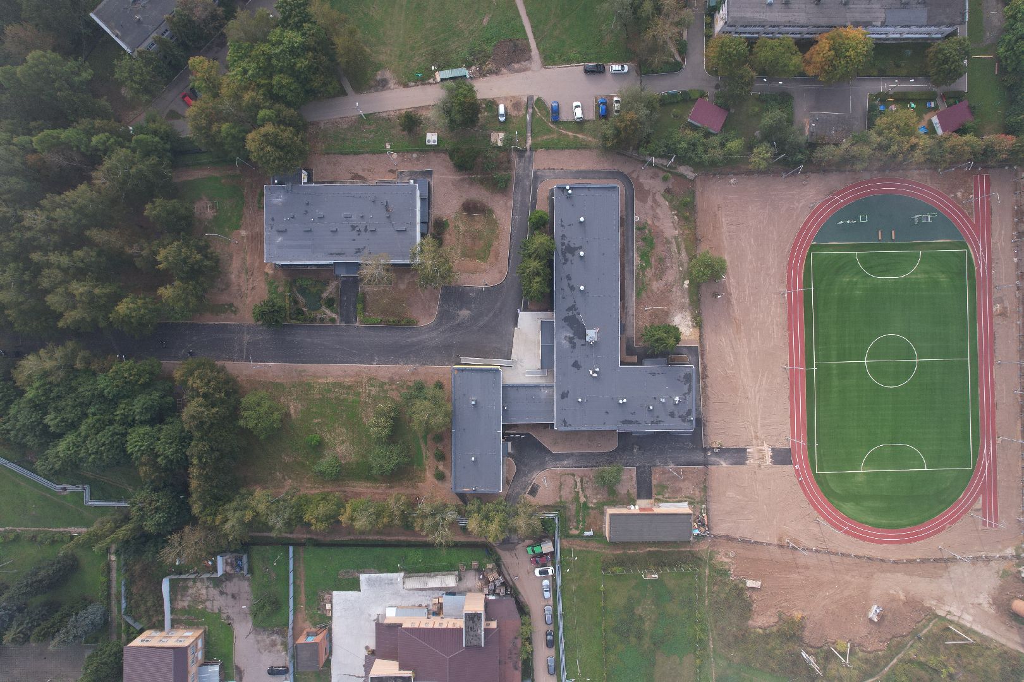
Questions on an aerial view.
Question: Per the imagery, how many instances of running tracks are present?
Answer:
1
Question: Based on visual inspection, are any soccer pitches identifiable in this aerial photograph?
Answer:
Yes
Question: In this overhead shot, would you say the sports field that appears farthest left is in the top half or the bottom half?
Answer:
bottom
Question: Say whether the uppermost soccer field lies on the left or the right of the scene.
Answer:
right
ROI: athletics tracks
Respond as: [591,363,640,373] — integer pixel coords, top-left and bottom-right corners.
[787,172,1000,545]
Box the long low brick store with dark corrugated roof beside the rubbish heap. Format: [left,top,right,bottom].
[608,502,701,542]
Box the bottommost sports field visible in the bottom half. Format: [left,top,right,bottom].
[601,568,703,682]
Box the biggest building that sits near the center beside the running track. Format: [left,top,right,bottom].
[541,185,695,435]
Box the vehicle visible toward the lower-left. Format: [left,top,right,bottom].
[267,666,288,678]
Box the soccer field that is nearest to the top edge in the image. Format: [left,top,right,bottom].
[805,242,979,527]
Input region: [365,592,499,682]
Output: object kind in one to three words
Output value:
building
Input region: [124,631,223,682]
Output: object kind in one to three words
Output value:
house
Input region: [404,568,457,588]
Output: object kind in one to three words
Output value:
shed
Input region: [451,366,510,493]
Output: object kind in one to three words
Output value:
building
